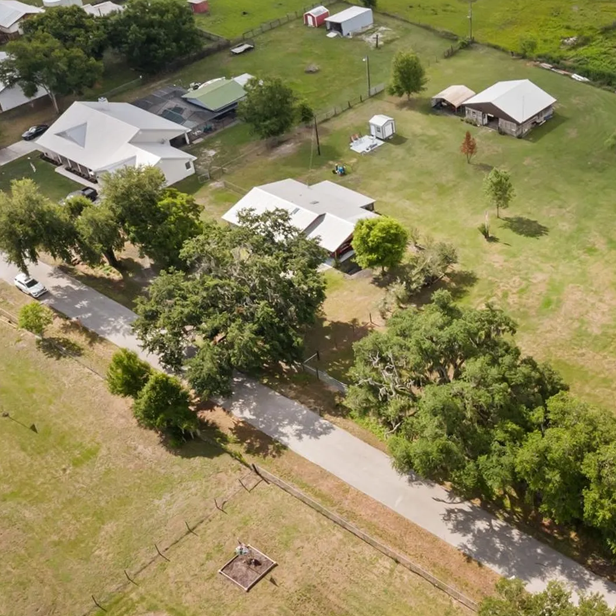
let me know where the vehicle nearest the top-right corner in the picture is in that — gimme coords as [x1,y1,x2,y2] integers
[335,161,347,175]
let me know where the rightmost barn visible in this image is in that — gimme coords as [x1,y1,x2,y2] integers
[460,80,558,139]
